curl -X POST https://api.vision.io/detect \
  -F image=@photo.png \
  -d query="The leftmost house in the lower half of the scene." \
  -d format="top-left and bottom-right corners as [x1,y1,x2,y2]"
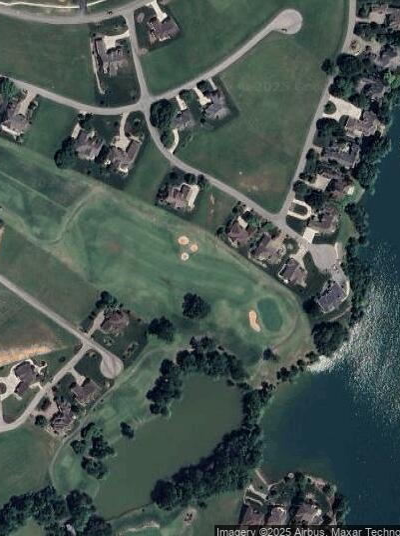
[8,362,40,396]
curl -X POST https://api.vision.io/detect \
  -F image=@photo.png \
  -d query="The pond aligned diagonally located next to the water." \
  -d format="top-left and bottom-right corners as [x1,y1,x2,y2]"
[97,375,245,516]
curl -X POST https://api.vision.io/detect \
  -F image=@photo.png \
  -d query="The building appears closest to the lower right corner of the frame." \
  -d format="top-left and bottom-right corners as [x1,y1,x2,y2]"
[293,500,328,534]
